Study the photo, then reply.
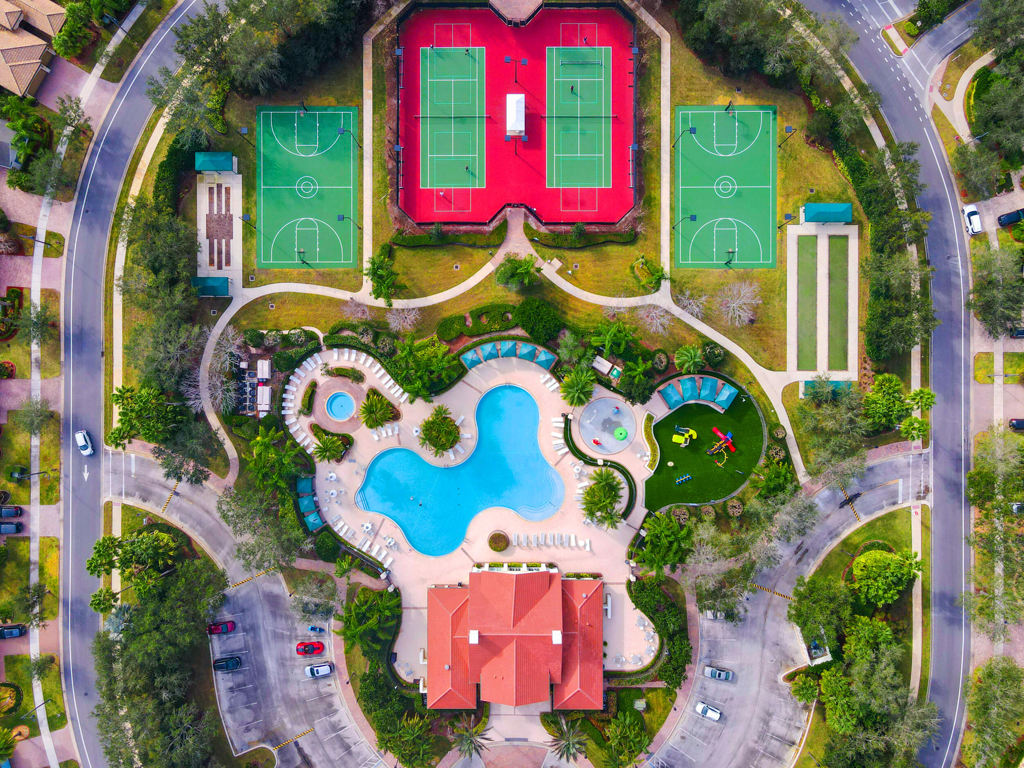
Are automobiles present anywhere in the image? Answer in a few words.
Yes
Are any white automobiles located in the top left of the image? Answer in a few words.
No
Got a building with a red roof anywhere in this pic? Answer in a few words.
Yes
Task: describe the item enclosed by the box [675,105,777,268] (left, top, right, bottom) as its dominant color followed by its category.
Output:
green basketball court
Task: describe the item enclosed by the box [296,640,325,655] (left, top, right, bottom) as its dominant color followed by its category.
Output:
red car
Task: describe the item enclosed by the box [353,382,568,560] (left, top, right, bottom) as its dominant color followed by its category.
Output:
blue swimming pool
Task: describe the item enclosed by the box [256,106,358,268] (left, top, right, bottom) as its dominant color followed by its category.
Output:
green basketball court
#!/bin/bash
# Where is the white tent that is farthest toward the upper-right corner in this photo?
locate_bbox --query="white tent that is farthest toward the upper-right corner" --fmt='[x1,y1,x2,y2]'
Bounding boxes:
[507,94,525,136]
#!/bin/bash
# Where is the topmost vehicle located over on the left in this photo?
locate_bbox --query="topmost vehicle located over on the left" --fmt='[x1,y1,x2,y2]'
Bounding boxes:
[77,430,96,456]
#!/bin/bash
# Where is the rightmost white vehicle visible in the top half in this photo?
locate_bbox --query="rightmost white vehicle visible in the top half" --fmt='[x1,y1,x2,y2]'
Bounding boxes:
[960,206,980,235]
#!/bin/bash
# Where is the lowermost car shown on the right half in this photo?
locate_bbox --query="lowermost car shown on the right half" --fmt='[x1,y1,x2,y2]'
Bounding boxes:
[693,700,722,721]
